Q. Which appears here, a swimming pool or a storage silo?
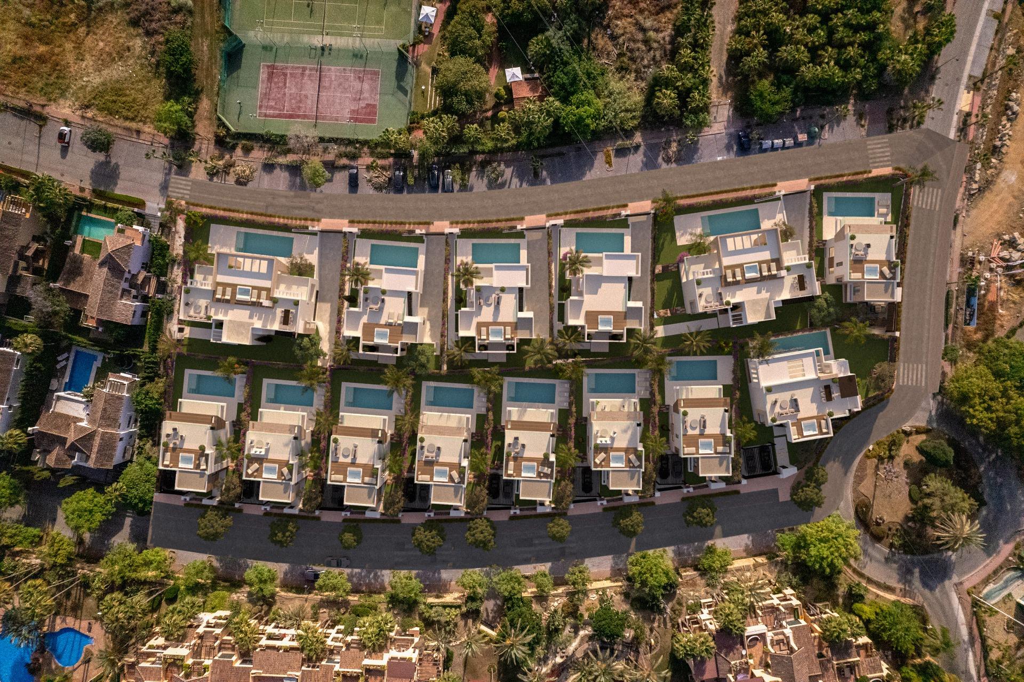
swimming pool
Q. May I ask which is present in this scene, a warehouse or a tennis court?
tennis court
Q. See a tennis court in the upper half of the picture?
Yes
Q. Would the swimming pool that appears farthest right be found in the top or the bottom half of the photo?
bottom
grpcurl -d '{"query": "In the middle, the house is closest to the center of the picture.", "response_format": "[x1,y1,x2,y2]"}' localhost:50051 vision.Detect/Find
[458,265,535,355]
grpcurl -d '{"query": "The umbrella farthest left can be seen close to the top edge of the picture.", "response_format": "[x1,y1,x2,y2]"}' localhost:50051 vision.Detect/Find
[418,7,437,26]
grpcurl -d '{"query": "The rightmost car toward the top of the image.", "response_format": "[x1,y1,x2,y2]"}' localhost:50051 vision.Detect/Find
[737,128,751,152]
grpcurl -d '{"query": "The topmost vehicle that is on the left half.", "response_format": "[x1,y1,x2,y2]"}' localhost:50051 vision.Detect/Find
[58,126,71,147]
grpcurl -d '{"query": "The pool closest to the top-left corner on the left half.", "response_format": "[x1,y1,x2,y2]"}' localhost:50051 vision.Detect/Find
[70,214,119,257]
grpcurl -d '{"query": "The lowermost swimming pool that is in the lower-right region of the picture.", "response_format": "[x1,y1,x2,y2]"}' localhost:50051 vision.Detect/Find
[981,567,1024,606]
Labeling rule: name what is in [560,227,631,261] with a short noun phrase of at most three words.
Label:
swimming pool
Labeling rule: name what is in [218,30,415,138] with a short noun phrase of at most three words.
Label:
tennis court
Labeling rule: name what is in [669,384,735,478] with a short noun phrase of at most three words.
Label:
house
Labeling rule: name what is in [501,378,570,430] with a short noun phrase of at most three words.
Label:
swimming pool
